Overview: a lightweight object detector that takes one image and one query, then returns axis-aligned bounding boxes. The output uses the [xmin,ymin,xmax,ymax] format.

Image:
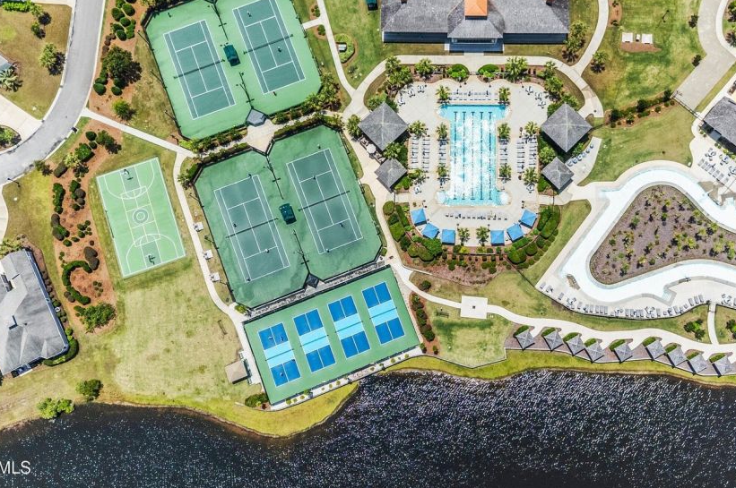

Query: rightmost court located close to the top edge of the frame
[214,0,319,112]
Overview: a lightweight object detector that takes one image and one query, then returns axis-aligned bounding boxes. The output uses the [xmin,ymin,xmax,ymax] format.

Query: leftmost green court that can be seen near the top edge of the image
[145,0,253,136]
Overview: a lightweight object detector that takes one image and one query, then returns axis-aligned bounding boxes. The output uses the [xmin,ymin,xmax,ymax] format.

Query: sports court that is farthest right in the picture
[362,282,404,344]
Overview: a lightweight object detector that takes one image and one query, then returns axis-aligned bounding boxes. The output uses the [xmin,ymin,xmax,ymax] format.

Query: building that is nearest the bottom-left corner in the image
[0,248,70,378]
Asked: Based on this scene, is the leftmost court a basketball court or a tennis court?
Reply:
basketball court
